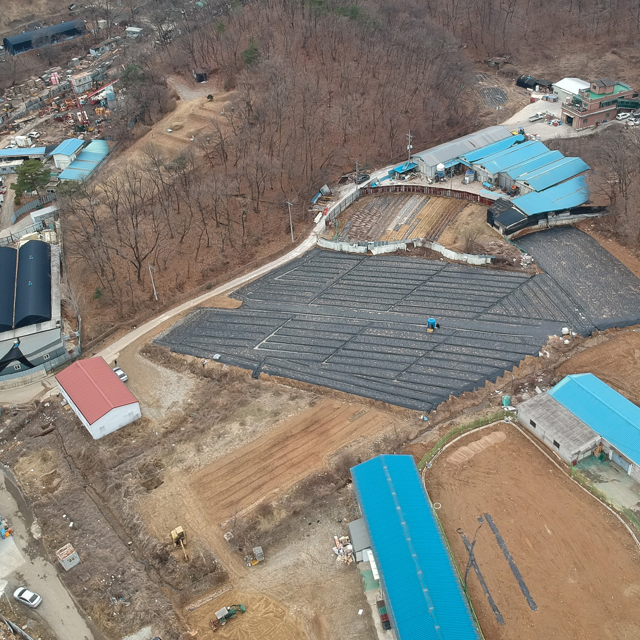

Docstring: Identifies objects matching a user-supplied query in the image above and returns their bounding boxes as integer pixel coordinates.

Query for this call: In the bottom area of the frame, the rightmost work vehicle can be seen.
[205,601,250,634]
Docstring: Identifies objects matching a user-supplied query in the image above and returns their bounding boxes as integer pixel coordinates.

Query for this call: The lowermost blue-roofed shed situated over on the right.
[350,452,480,640]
